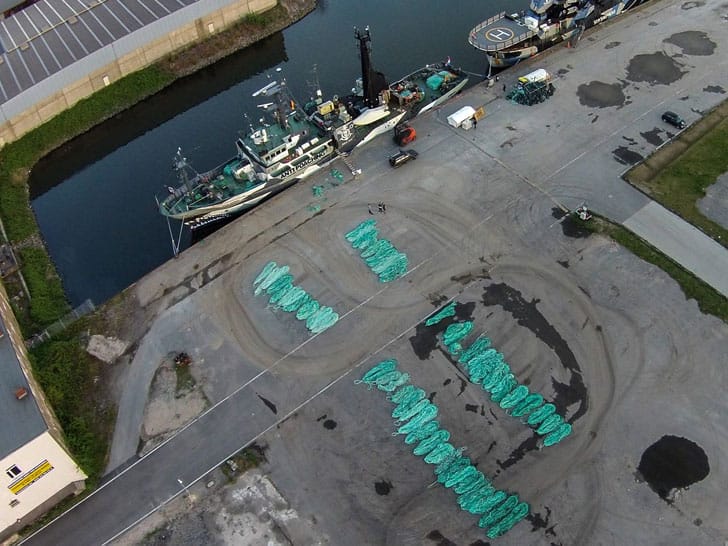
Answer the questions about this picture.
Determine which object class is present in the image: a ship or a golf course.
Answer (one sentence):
Of the two, only a ship appears.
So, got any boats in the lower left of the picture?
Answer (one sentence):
No, no boat appears in the lower left of the picture.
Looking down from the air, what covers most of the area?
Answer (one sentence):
What you mostly see from above here is paved ground.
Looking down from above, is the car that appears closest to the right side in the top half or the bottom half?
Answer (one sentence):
The car that appears closest to the right side is in the top half of the image.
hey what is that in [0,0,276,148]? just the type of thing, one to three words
warehouse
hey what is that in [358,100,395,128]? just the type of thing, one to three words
boat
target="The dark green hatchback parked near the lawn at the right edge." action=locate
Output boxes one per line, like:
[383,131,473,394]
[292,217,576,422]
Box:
[660,106,690,126]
